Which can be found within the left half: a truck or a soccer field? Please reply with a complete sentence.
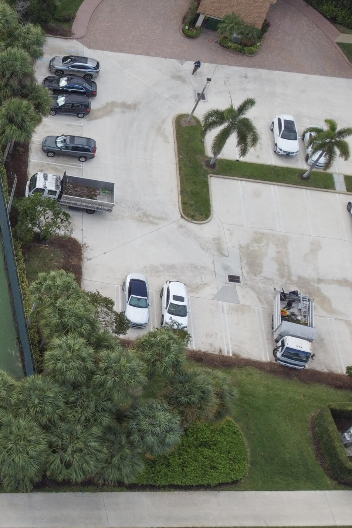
What appears within the left half is a truck.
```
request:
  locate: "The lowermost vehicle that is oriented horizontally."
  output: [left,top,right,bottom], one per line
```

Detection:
[30,172,117,215]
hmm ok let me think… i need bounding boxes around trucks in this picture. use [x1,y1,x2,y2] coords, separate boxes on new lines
[272,292,321,374]
[30,172,117,215]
